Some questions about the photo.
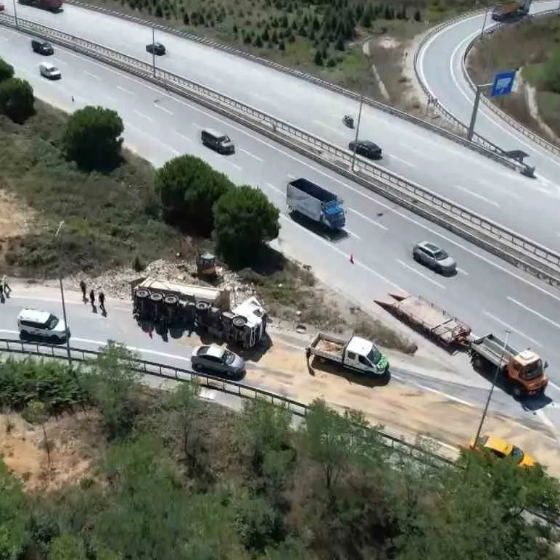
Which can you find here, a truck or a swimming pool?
truck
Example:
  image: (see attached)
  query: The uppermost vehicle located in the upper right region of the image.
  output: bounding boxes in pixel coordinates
[492,0,529,22]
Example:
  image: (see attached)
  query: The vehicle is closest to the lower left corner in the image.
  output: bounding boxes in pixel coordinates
[14,308,70,342]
